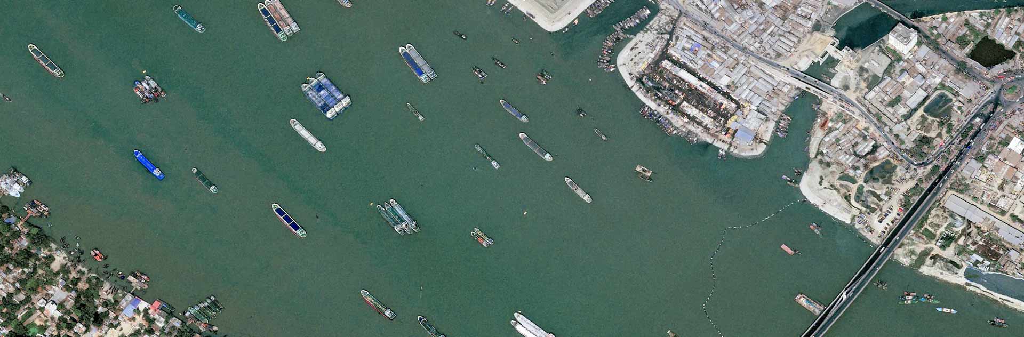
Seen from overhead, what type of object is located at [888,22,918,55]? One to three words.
building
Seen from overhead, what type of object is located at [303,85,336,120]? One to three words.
ship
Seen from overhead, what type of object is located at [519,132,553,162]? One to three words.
ship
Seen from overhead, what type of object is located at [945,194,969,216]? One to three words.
building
